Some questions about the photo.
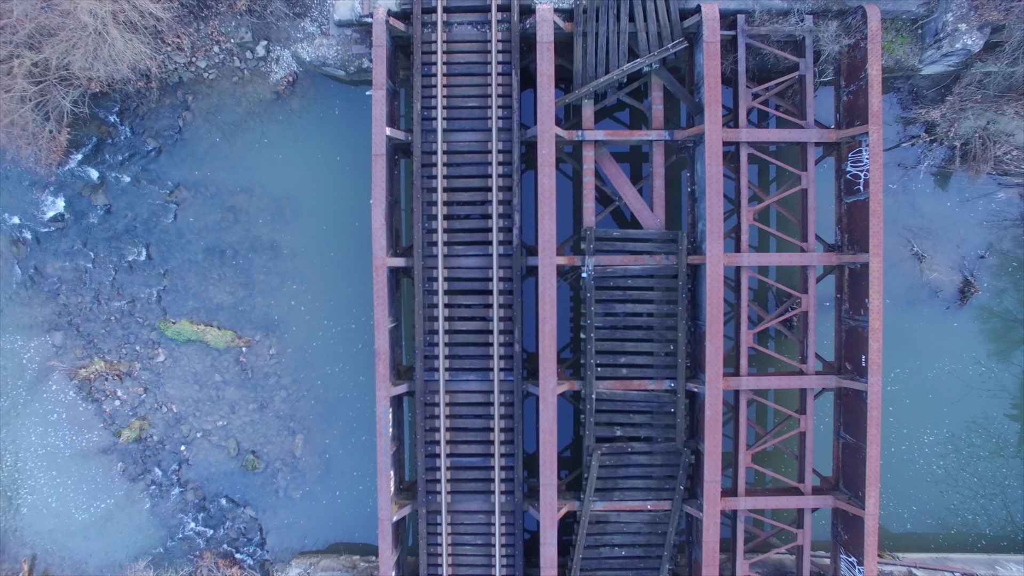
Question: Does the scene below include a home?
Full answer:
No, the photo shows no home.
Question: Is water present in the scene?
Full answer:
Yes, there is water in the image.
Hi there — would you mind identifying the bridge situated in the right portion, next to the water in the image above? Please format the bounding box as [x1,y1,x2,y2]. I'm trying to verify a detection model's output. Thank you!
[368,7,886,576]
